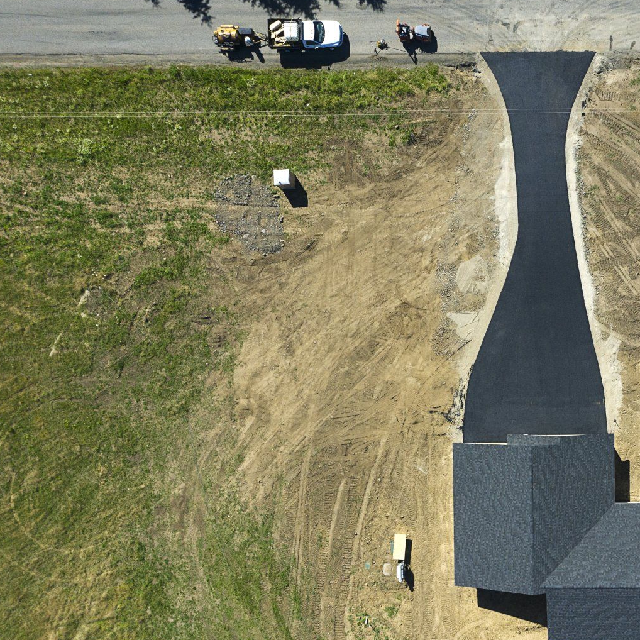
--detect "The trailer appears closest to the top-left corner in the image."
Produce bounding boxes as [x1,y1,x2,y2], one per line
[215,26,266,54]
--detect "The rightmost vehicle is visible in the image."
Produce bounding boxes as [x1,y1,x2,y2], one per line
[398,21,435,48]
